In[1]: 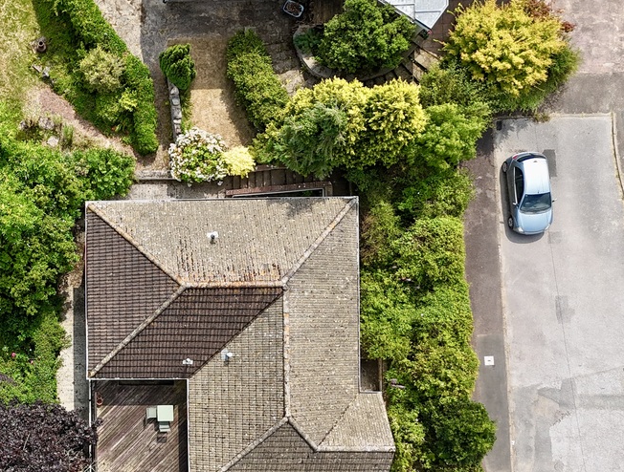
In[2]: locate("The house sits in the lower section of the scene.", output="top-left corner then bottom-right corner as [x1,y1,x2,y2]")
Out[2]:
[84,195,396,472]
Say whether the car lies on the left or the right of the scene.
right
